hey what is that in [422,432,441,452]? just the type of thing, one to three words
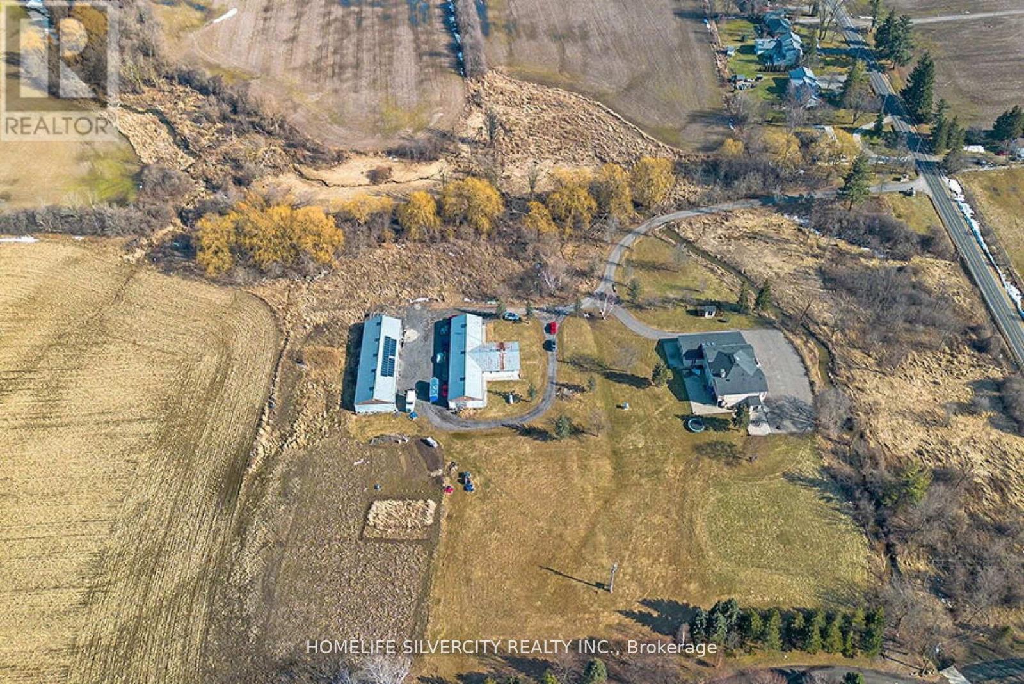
vehicle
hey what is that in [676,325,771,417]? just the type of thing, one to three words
house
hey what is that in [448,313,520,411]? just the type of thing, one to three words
barn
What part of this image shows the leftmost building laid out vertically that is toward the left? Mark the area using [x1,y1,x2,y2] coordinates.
[355,315,401,411]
